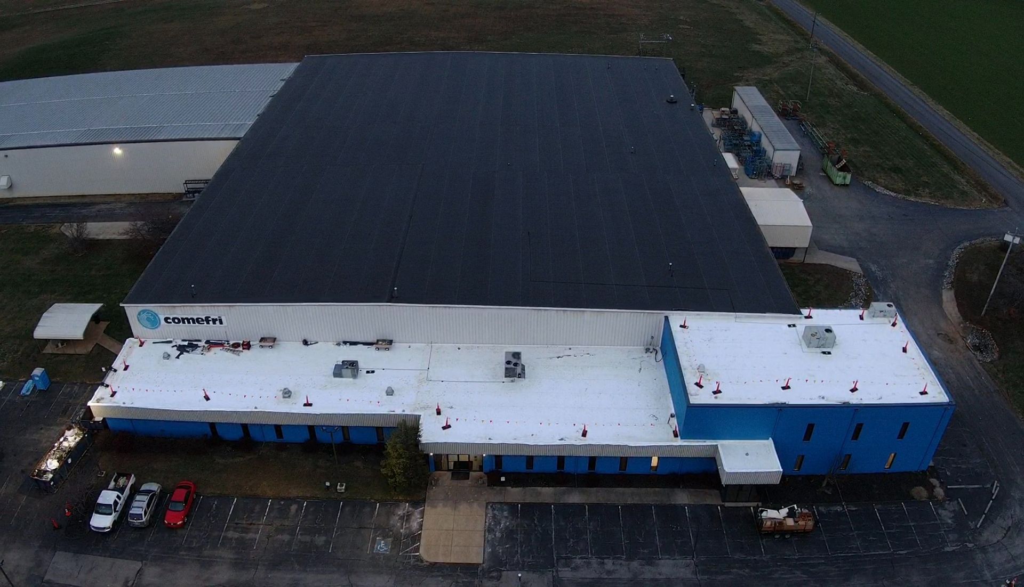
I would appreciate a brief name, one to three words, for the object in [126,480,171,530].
car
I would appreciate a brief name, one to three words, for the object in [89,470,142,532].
truck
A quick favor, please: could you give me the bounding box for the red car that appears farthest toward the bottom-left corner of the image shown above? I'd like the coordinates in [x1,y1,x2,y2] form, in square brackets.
[161,478,200,528]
